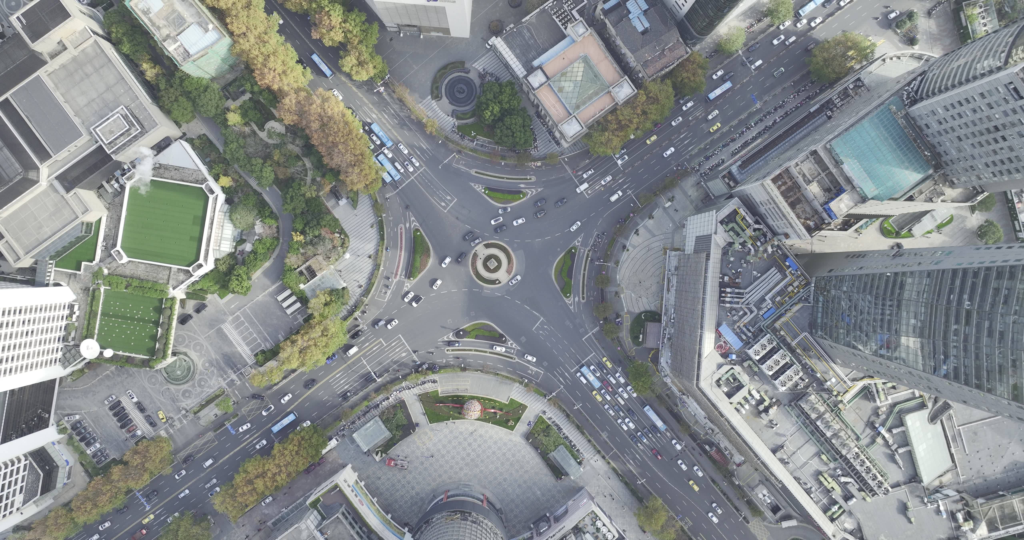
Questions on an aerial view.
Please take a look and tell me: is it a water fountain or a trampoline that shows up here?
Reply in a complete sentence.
The image shows a water fountain.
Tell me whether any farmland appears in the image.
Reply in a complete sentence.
No, the scene doesn't show any farmland.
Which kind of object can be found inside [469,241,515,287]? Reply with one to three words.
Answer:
roundabout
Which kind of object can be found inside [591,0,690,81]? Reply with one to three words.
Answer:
building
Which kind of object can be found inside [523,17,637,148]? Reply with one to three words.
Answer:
building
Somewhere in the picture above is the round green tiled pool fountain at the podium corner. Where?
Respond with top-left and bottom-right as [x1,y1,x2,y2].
[159,350,197,387]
